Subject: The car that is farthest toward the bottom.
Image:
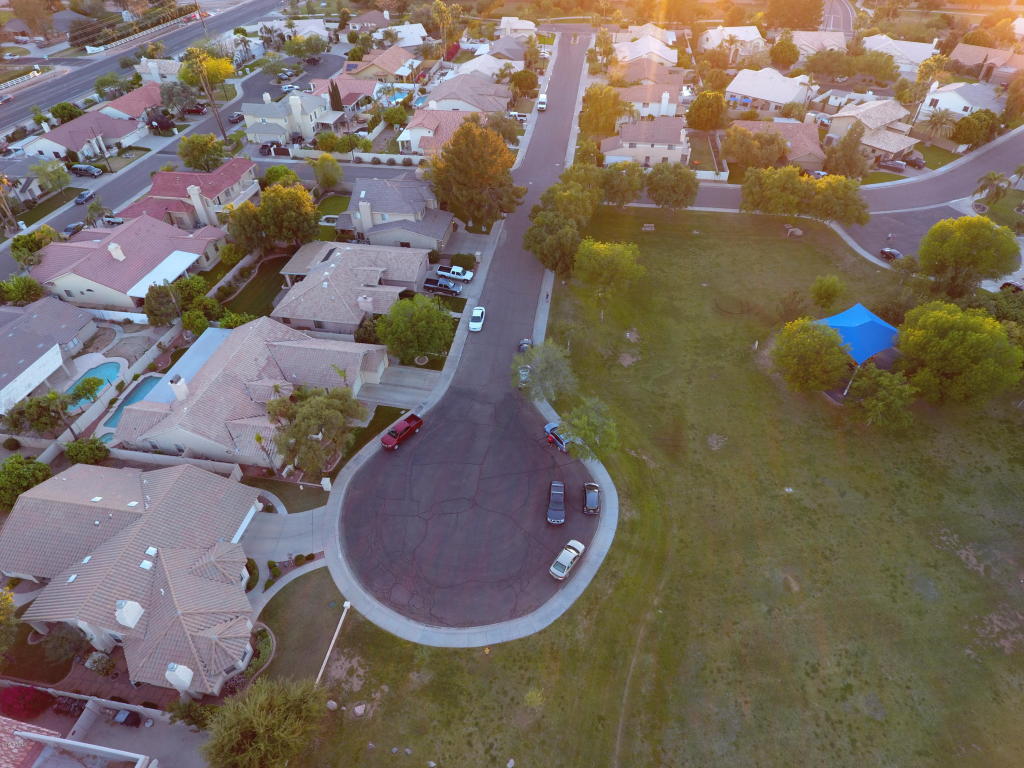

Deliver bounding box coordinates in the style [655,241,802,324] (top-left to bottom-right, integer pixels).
[550,540,585,580]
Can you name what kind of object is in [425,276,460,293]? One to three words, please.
vehicle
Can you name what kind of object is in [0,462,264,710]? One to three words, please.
house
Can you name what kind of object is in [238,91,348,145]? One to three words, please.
house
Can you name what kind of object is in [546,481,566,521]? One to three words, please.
car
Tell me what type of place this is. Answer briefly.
residential area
